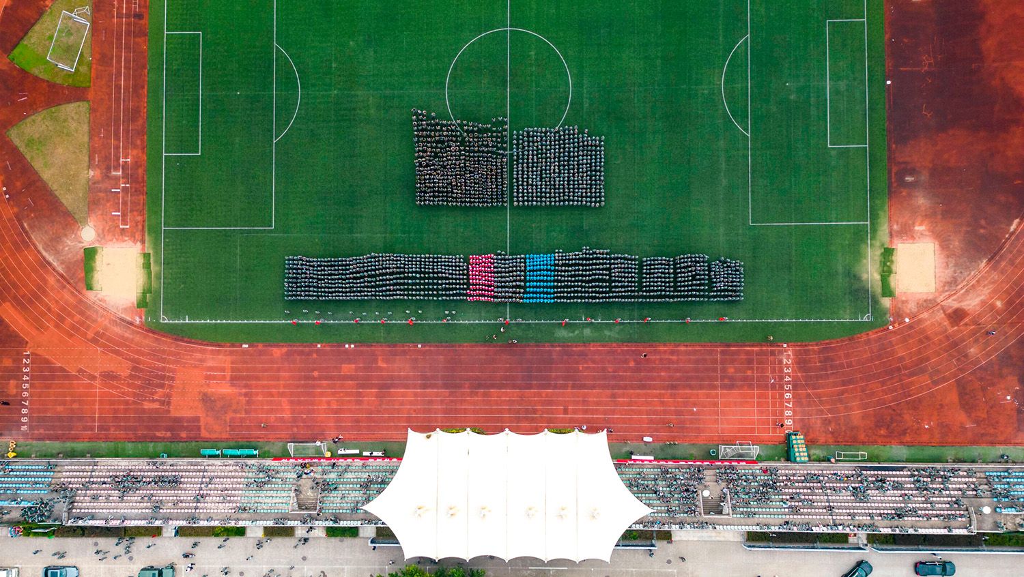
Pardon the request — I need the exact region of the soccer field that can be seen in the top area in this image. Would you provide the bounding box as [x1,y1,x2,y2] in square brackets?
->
[144,0,890,344]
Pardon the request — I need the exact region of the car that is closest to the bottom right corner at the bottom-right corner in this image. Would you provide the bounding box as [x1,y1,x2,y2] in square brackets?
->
[912,558,952,576]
